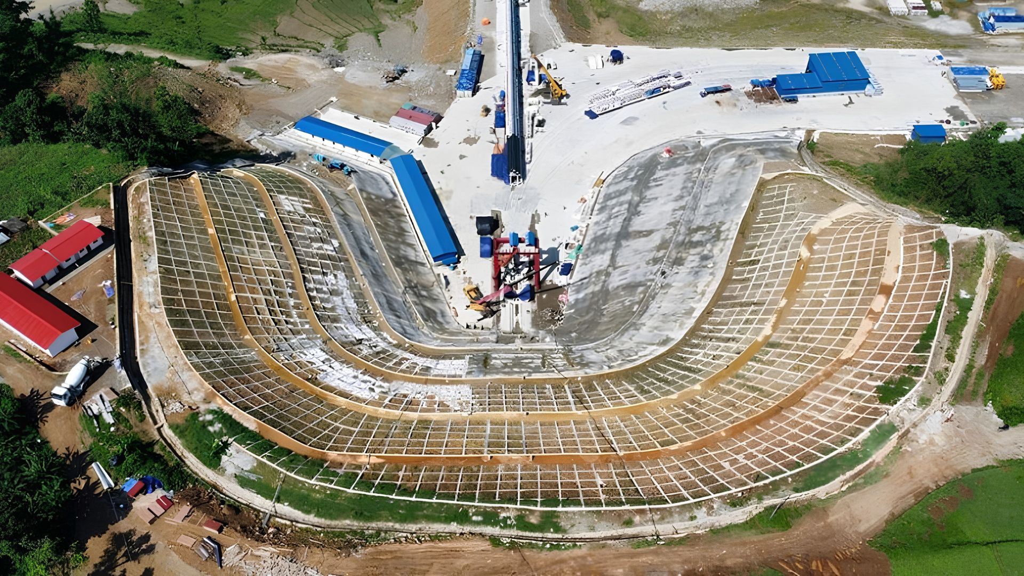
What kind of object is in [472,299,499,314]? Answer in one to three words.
work vehicle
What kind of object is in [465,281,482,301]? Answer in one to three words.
work vehicle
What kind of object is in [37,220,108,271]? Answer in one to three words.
house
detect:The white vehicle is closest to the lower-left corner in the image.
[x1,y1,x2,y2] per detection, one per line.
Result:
[46,349,102,397]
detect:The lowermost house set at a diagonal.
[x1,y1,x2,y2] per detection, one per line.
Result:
[0,280,83,356]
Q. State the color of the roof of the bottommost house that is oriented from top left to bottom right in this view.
red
